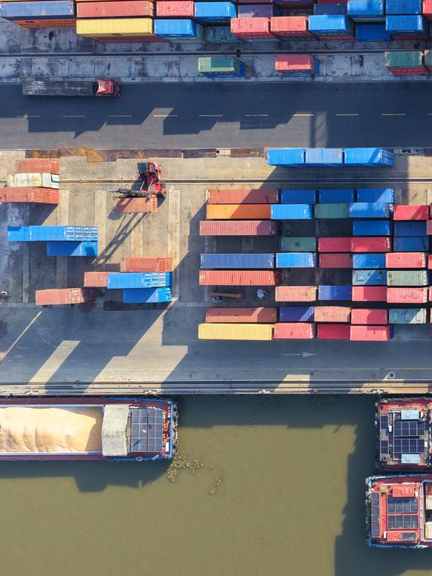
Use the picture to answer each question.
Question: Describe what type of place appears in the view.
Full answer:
This looks like a port.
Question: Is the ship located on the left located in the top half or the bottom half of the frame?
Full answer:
The ship located on the left is in the bottom half of the image.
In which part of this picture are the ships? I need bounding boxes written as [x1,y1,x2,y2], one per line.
[0,399,181,461]
[365,474,432,548]
[374,397,432,471]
